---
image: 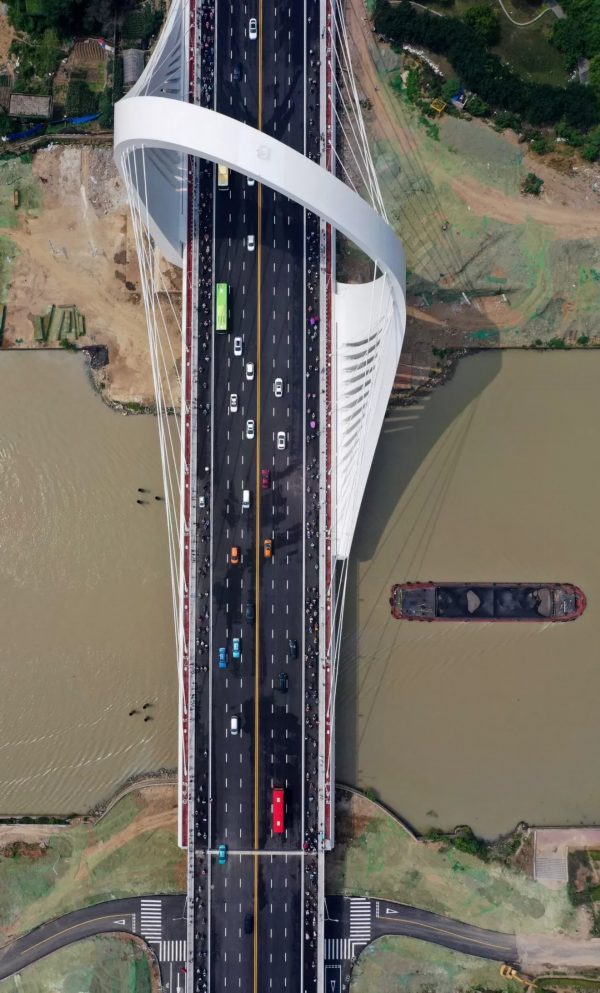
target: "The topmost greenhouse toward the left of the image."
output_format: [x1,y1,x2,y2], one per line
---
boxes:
[124,48,143,83]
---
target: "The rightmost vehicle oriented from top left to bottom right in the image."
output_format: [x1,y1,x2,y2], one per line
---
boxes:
[499,960,541,989]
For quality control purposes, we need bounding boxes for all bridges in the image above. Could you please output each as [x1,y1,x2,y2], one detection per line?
[114,0,406,993]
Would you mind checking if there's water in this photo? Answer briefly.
Yes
